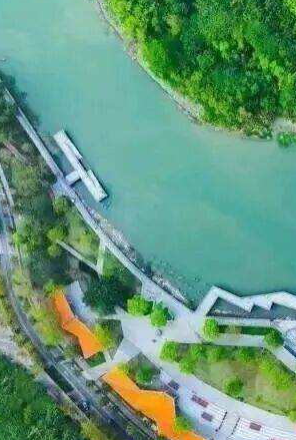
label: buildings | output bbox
[102,367,205,440]
[54,287,102,359]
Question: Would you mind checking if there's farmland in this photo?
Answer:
No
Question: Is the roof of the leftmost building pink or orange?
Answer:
orange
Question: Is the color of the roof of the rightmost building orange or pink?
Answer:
orange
